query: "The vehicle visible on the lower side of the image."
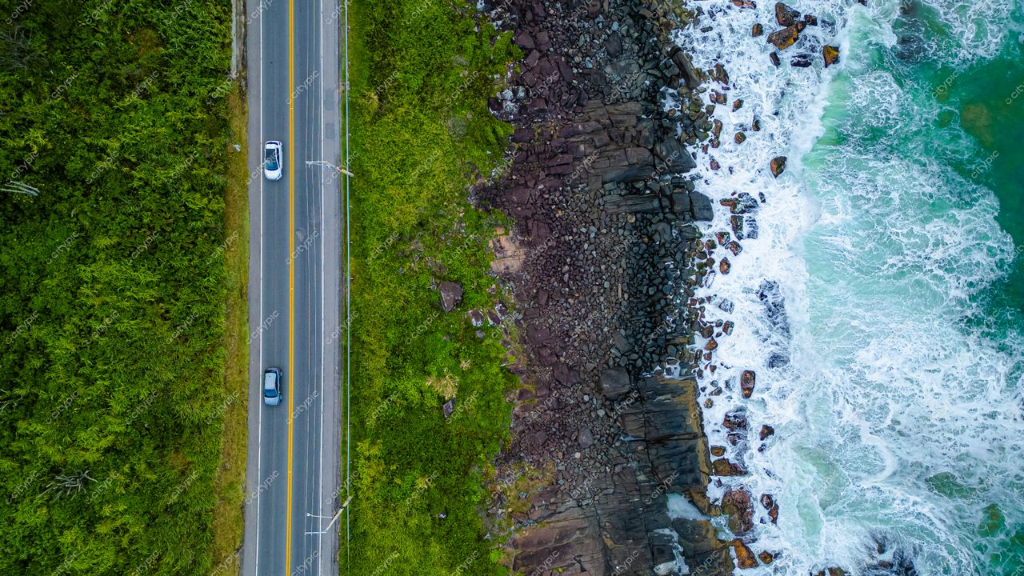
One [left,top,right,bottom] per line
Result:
[261,369,282,407]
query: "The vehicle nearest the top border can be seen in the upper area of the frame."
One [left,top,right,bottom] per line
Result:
[261,141,283,181]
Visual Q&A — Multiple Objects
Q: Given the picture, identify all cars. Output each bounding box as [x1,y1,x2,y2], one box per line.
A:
[261,369,282,407]
[261,141,283,181]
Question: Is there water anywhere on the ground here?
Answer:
Yes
